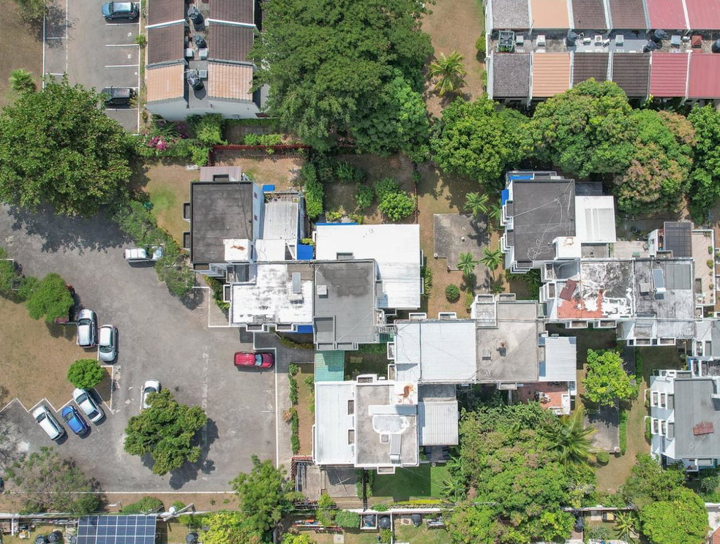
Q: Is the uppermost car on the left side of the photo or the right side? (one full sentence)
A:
It is on the left.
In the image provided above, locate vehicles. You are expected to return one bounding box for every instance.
[74,391,105,425]
[103,1,139,22]
[103,88,136,106]
[35,405,66,442]
[98,325,118,362]
[62,403,90,439]
[234,350,275,369]
[122,246,163,264]
[77,310,97,347]
[142,381,161,400]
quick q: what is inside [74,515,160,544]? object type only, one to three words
solar array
